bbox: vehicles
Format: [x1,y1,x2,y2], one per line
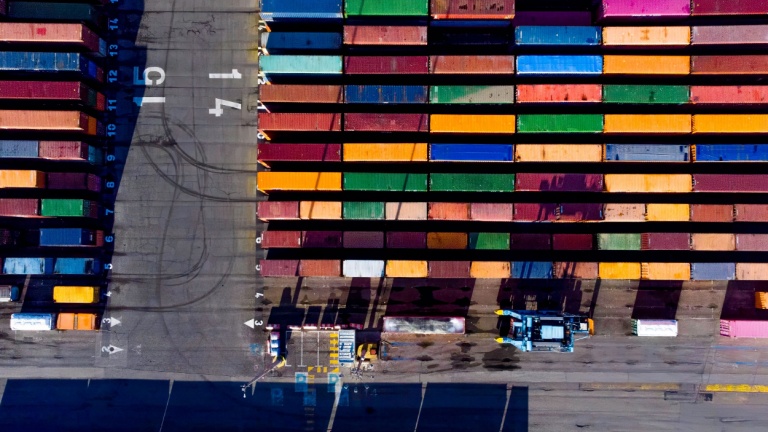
[493,308,592,356]
[367,334,376,356]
